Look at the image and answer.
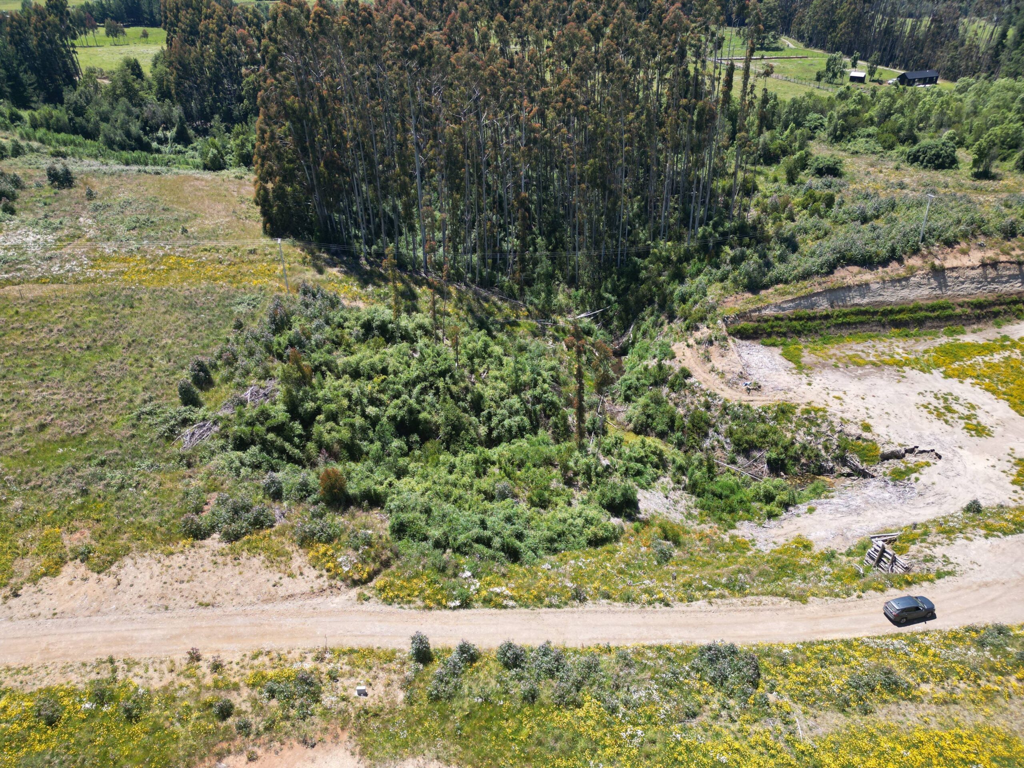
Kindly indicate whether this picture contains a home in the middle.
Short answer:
No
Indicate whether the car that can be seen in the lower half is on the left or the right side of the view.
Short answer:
right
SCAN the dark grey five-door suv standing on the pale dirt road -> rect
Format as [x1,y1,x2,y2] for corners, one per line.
[882,589,939,621]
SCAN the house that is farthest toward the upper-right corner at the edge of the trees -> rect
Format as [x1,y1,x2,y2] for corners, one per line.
[897,62,949,87]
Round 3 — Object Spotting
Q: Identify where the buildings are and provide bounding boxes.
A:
[897,62,949,87]
[846,67,866,82]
